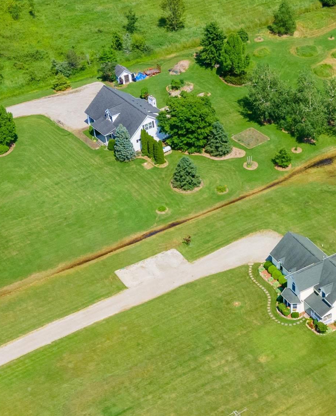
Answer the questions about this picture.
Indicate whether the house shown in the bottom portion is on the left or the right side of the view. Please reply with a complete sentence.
The house shown in the bottom portion appears in the right half of the scene.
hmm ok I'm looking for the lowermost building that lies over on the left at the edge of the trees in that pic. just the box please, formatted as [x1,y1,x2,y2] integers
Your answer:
[84,85,166,152]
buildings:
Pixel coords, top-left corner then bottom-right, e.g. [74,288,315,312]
[84,85,166,152]
[269,231,336,324]
[113,65,132,85]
